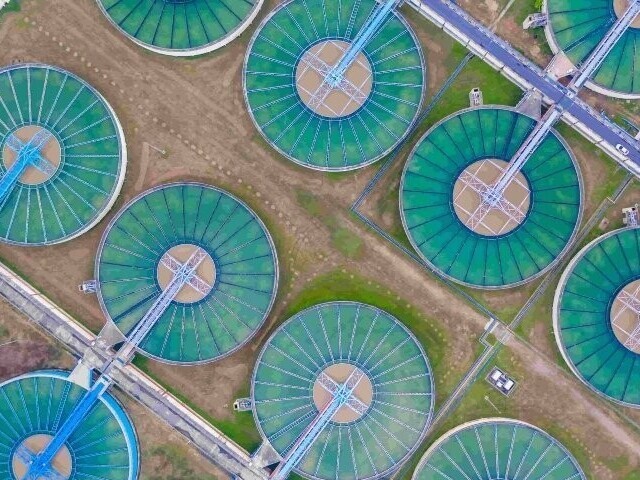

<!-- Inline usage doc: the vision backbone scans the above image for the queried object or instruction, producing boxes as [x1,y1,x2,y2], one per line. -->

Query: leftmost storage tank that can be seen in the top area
[0,62,128,248]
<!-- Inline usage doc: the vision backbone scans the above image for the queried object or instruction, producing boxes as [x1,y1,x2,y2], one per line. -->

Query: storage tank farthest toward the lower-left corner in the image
[0,355,139,480]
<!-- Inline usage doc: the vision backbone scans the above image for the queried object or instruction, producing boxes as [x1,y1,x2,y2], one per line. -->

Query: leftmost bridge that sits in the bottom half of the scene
[36,371,114,468]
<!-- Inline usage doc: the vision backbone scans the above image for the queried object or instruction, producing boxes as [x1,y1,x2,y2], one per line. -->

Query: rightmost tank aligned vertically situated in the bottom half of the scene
[552,225,640,409]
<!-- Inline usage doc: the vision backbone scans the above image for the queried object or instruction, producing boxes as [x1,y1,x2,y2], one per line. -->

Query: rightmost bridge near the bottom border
[271,392,346,480]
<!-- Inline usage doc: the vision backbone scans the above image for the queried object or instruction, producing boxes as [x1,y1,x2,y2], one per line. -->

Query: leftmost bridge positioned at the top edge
[331,0,402,79]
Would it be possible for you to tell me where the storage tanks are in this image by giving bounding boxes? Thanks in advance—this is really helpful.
[93,180,279,366]
[542,0,640,99]
[242,0,428,171]
[0,355,139,480]
[94,0,264,56]
[552,225,640,409]
[250,300,436,480]
[0,62,128,248]
[410,418,586,480]
[398,89,586,290]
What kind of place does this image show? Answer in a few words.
industrial area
